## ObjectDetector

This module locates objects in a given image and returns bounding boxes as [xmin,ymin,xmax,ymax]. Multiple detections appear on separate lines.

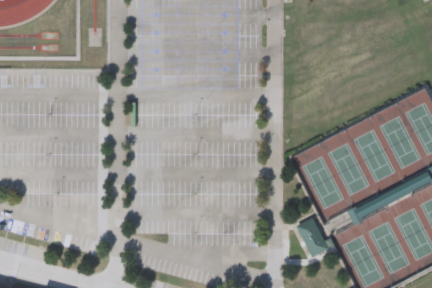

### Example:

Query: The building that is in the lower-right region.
[298,214,335,256]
